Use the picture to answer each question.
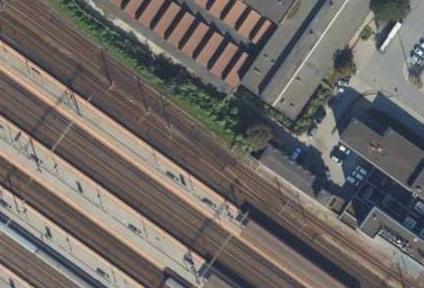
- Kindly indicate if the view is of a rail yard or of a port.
rail yard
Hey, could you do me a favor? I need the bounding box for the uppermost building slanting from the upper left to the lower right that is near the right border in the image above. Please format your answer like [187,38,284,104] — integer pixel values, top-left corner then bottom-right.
[340,117,424,190]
